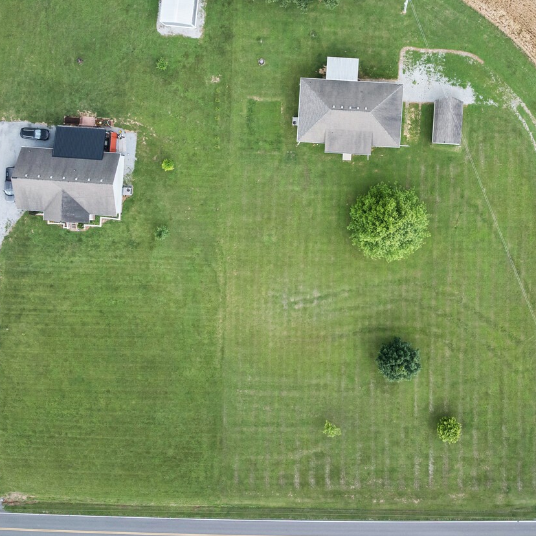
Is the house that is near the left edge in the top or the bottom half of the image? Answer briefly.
top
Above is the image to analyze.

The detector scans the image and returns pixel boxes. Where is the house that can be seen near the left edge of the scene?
[11,125,124,230]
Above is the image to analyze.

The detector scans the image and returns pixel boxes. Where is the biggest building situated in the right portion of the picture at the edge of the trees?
[296,57,409,160]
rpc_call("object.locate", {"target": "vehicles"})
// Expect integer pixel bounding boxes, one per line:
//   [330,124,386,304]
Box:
[18,126,49,141]
[3,166,15,199]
